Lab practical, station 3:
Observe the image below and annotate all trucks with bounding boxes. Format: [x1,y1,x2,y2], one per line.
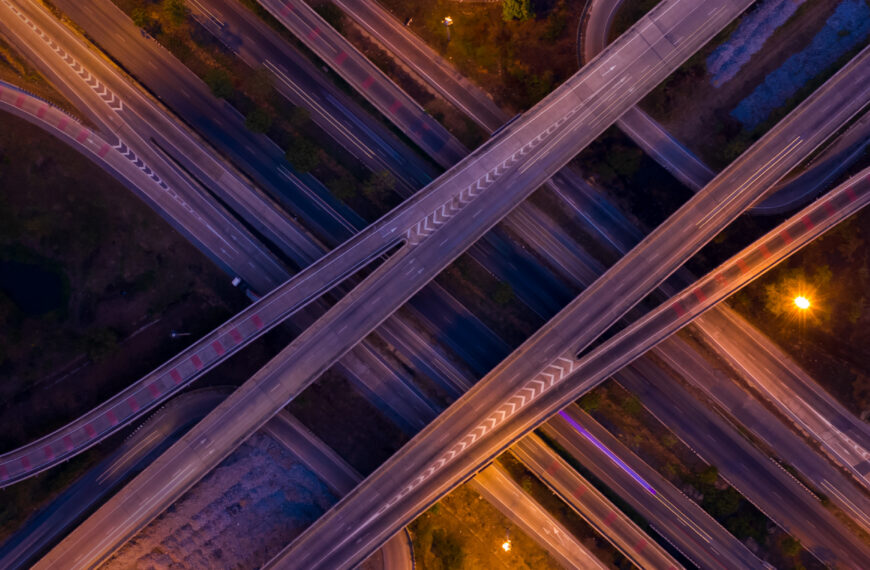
[231,278,257,302]
[565,414,655,493]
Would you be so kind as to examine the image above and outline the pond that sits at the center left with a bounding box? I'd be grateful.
[0,260,71,316]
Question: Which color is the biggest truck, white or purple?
purple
